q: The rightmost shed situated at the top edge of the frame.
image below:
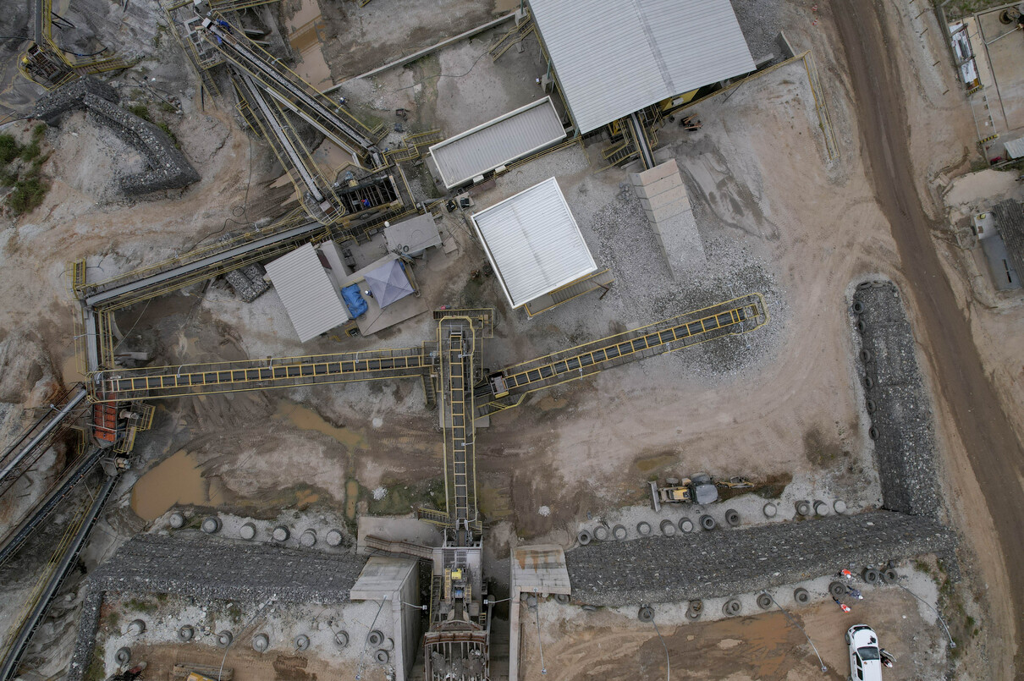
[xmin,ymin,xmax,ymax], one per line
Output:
[504,0,756,175]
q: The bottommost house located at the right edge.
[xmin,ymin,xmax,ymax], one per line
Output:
[970,198,1024,293]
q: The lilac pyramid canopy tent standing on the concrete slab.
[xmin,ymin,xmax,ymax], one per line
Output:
[363,260,419,310]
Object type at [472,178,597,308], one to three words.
building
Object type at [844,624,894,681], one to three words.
truck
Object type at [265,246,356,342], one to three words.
shed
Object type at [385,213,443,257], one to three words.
shed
